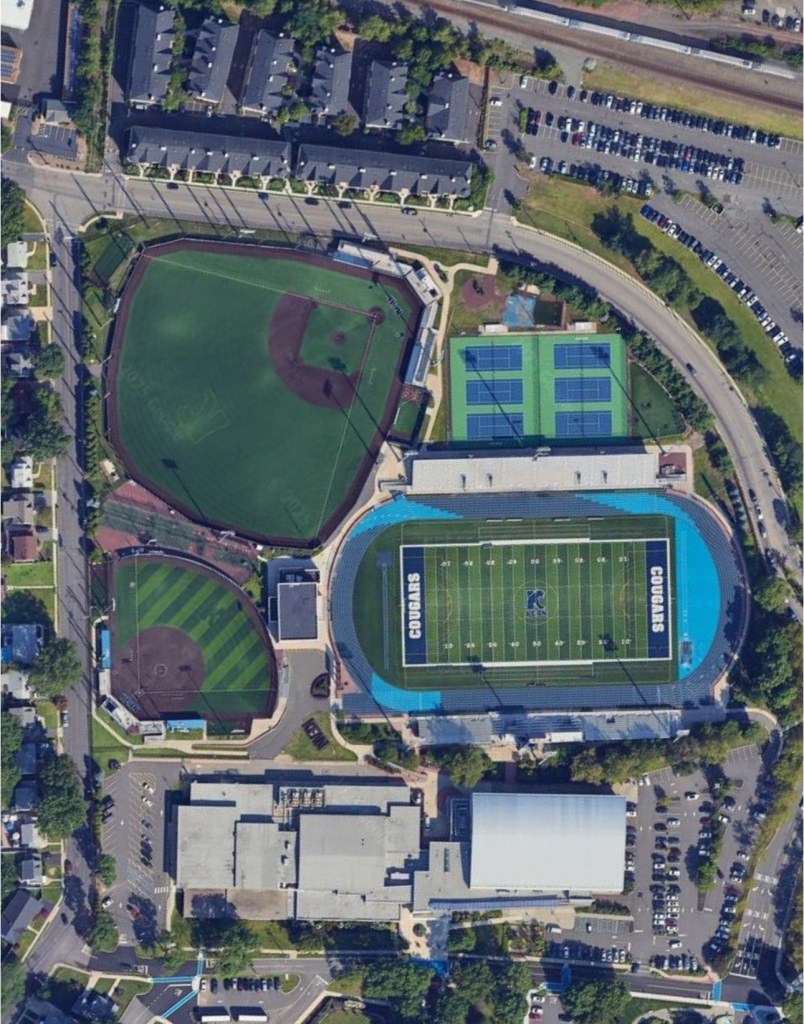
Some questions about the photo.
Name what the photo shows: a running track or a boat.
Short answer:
running track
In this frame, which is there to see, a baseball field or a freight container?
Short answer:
baseball field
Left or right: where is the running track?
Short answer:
right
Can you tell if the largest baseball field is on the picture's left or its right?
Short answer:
left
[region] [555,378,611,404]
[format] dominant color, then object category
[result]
blue tennis court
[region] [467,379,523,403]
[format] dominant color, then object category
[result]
blue tennis court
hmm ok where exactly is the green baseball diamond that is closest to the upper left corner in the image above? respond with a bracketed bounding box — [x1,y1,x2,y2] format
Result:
[104,239,424,547]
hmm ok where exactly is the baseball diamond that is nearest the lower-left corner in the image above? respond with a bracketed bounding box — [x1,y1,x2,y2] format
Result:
[110,549,276,728]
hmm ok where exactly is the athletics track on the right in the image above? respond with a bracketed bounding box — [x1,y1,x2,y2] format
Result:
[331,491,746,717]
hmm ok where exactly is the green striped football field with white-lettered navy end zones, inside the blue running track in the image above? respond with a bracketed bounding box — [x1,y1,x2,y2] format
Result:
[356,516,677,690]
